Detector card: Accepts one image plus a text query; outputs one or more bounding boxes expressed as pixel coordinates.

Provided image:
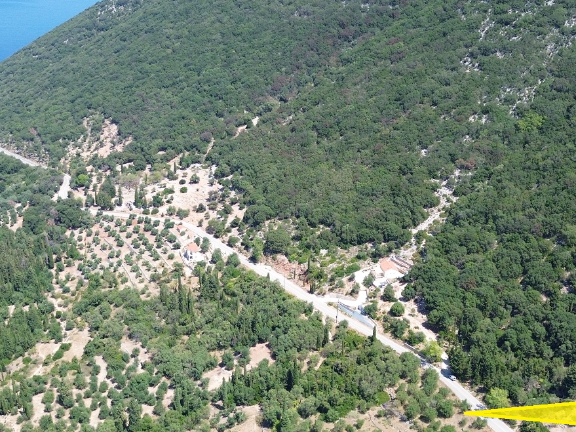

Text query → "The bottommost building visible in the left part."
[184,243,207,264]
